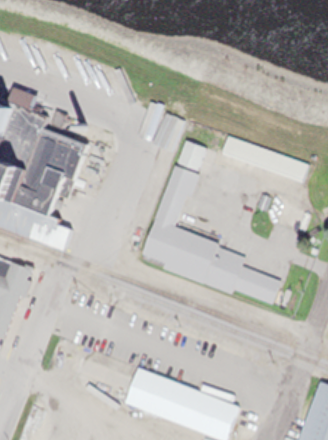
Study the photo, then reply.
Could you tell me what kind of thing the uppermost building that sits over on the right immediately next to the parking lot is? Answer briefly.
warehouse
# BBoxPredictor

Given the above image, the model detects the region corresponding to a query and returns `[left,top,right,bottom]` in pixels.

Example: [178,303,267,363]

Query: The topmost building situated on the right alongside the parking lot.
[144,164,284,303]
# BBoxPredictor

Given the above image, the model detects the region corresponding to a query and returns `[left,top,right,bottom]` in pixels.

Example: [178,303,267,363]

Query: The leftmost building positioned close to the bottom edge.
[126,368,240,440]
